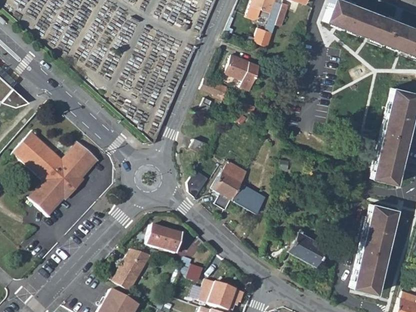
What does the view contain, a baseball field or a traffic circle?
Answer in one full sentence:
This aerial view contains a traffic circle.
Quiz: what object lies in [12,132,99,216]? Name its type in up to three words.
building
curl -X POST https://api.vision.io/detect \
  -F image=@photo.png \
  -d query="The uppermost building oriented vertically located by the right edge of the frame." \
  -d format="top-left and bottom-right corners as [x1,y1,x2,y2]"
[369,90,416,188]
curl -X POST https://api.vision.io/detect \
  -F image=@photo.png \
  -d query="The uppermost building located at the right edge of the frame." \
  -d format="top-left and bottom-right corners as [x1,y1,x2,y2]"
[322,0,416,62]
